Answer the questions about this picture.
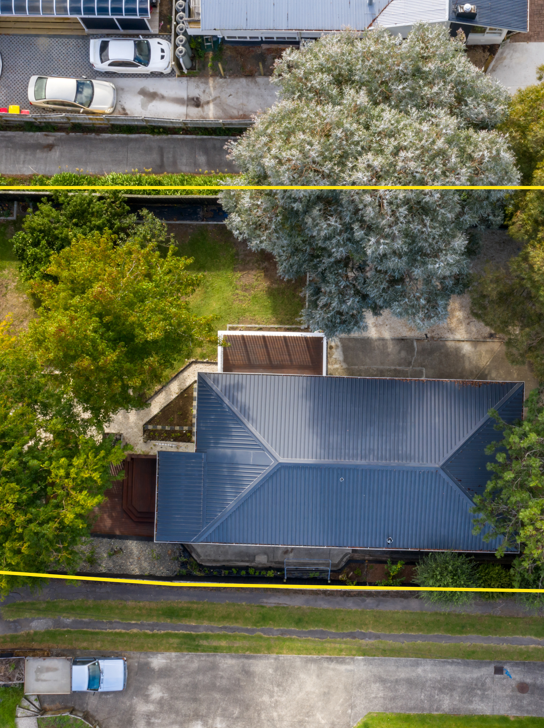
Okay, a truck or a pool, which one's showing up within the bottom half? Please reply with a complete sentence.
You can see a truck within the bottom half.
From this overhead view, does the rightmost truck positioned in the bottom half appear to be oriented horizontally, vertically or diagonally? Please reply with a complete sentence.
In this picture, the rightmost truck positioned in the bottom half is oriented horizontally.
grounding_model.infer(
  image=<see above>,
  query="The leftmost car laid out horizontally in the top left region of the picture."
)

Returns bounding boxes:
[26,73,118,116]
